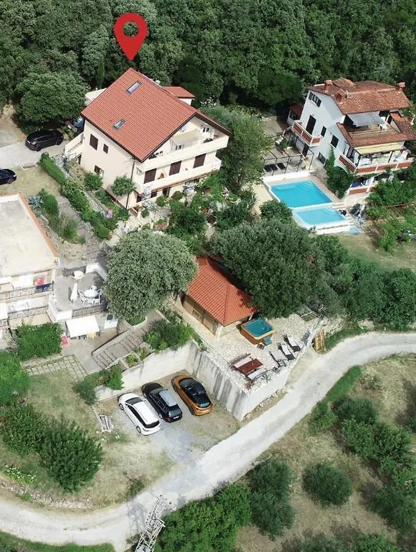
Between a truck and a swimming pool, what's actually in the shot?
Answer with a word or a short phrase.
swimming pool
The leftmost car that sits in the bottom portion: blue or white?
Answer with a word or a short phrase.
white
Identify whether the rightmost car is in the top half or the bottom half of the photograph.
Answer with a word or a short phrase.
bottom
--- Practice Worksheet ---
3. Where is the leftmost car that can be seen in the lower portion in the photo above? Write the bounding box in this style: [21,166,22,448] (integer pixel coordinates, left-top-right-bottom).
[120,386,163,435]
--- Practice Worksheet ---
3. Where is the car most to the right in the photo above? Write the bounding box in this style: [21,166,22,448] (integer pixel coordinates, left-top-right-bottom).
[172,368,217,412]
